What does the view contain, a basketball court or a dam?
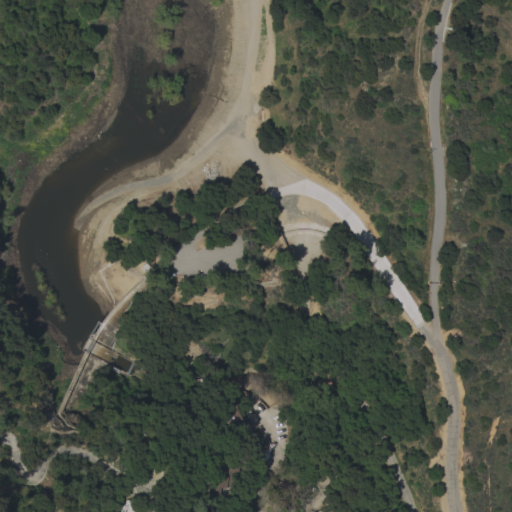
dam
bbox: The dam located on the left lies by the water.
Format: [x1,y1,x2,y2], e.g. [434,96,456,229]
[58,276,148,416]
